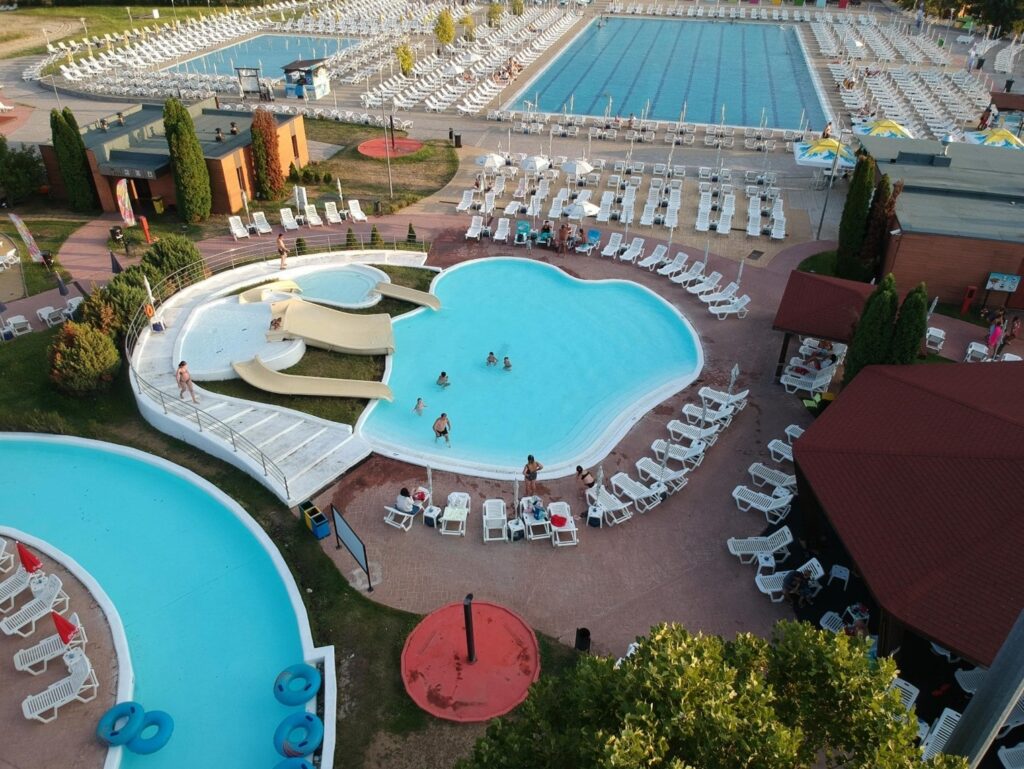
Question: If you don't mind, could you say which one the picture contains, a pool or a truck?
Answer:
pool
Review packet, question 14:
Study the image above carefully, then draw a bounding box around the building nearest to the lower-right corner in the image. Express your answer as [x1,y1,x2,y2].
[794,374,1024,691]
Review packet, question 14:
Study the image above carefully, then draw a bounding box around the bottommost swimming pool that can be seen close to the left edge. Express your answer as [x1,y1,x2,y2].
[0,438,306,769]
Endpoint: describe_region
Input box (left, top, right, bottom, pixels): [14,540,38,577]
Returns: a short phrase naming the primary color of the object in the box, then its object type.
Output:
red umbrella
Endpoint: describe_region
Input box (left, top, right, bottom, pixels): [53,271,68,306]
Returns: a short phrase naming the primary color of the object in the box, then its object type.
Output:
black umbrella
